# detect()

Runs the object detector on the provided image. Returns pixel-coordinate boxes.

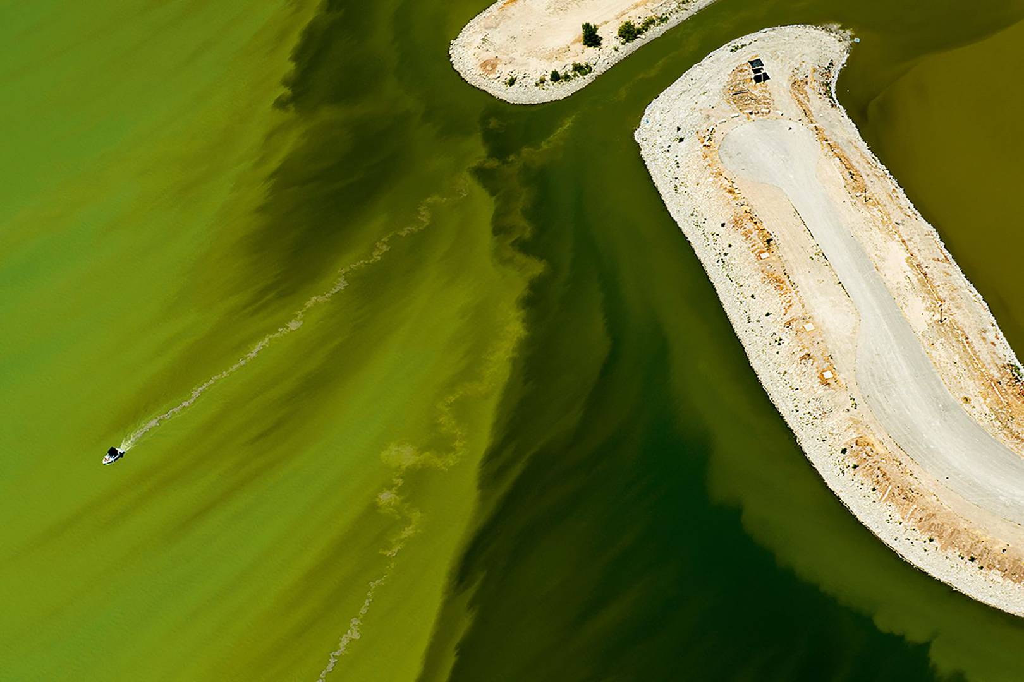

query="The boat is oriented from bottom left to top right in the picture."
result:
[103,447,124,464]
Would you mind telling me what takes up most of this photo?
water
